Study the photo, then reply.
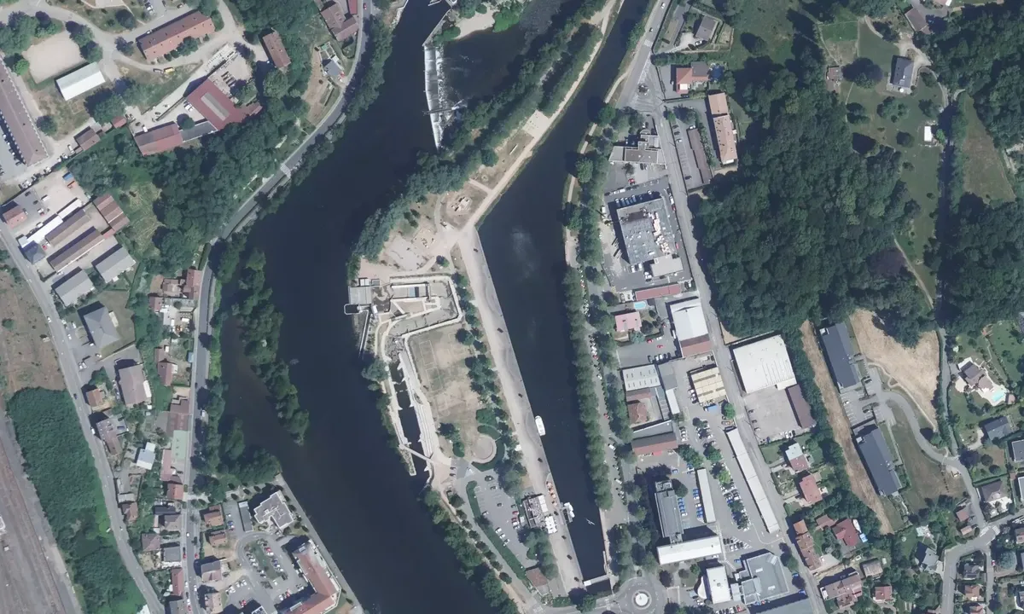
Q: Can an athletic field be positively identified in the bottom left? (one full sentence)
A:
No, no athletic field is visible in the bottom left.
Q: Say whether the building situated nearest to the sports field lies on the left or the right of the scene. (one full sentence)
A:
The building situated nearest to the sports field sits on the left side.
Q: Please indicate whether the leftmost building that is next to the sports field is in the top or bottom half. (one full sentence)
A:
The leftmost building that is next to the sports field sits in the top half of the picture.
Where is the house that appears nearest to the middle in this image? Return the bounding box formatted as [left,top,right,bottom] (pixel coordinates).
[615,311,642,331]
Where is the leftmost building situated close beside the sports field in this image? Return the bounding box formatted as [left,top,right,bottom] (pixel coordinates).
[0,59,47,166]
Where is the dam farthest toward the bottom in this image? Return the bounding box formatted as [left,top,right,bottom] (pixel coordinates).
[423,45,459,148]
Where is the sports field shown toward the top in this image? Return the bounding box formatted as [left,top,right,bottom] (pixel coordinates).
[22,31,87,84]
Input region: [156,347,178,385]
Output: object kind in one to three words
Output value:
house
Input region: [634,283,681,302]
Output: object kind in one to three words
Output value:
shed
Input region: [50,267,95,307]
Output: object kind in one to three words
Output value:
building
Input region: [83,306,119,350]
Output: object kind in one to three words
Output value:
house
